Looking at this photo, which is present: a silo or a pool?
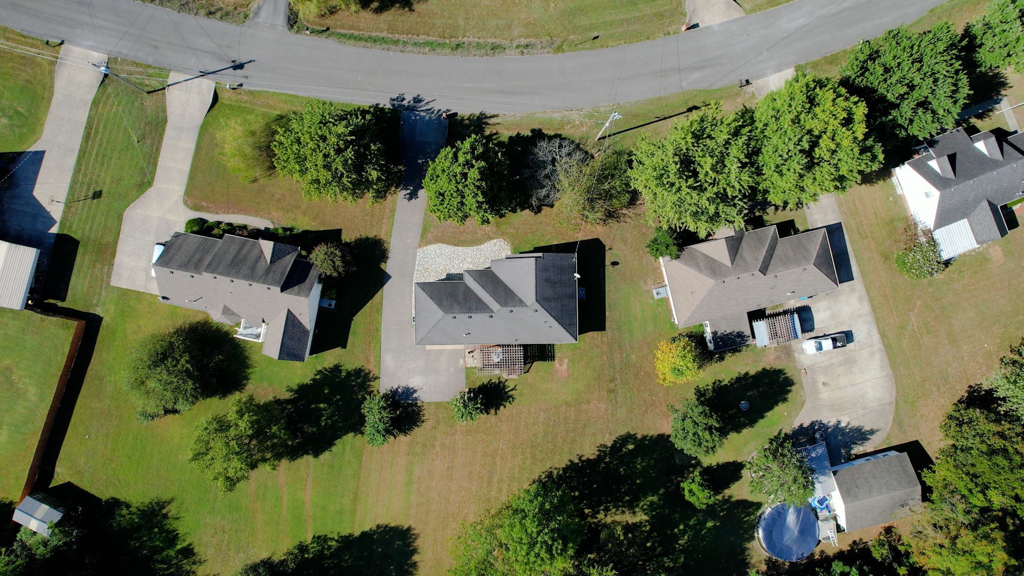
pool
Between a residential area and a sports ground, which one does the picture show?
residential area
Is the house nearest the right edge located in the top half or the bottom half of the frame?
top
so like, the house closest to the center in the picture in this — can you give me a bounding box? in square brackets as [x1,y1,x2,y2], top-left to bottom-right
[414,253,580,345]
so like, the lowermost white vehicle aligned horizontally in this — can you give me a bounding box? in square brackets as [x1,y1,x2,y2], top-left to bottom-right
[801,332,848,354]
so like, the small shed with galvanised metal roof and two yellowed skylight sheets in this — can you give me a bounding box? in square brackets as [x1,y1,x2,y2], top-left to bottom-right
[12,492,72,537]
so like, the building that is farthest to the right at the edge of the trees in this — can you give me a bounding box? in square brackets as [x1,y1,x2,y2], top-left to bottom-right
[891,104,1024,260]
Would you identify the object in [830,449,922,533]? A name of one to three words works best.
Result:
building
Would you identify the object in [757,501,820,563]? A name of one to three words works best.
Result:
swimming pool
